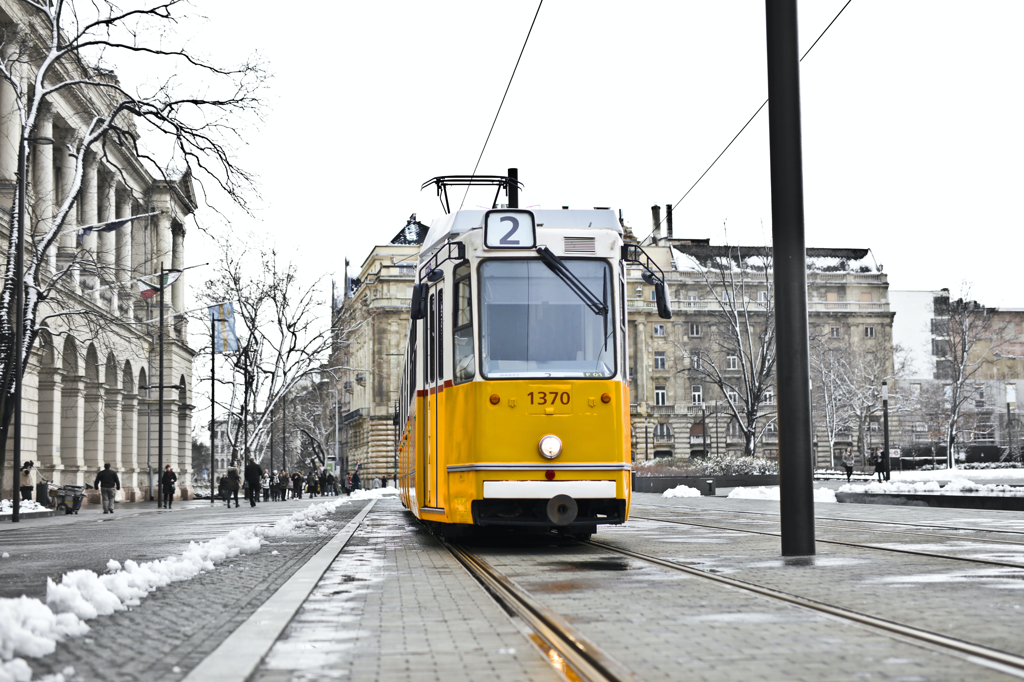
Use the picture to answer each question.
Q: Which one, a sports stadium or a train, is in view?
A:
train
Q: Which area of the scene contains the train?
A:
center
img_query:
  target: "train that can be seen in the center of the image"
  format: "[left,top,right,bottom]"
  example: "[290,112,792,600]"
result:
[401,173,674,546]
